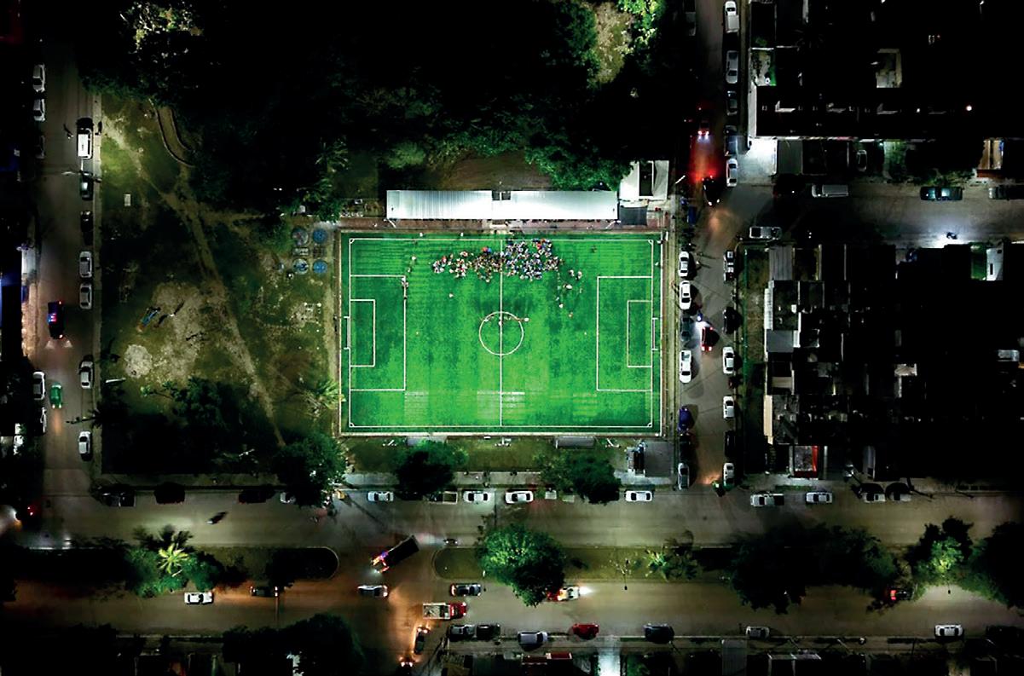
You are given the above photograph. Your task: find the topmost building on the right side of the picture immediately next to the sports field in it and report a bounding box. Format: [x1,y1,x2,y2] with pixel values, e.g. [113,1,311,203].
[620,159,668,204]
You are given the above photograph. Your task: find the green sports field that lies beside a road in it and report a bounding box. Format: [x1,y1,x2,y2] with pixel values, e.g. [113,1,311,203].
[336,228,666,438]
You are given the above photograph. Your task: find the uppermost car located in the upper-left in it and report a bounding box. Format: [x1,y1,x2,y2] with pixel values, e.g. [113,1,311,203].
[31,64,48,92]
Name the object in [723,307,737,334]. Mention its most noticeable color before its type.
black car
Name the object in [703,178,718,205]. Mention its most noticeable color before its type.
black car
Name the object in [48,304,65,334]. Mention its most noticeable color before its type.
black vehicle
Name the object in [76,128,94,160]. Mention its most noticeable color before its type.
white vehicle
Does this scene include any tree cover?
Yes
